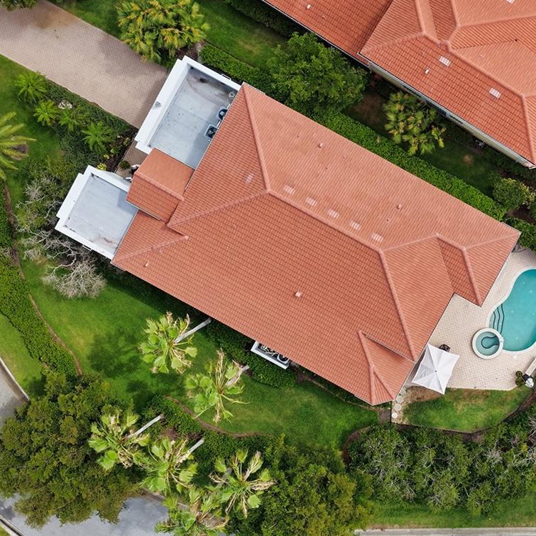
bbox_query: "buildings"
[55,56,521,405]
[262,0,536,166]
